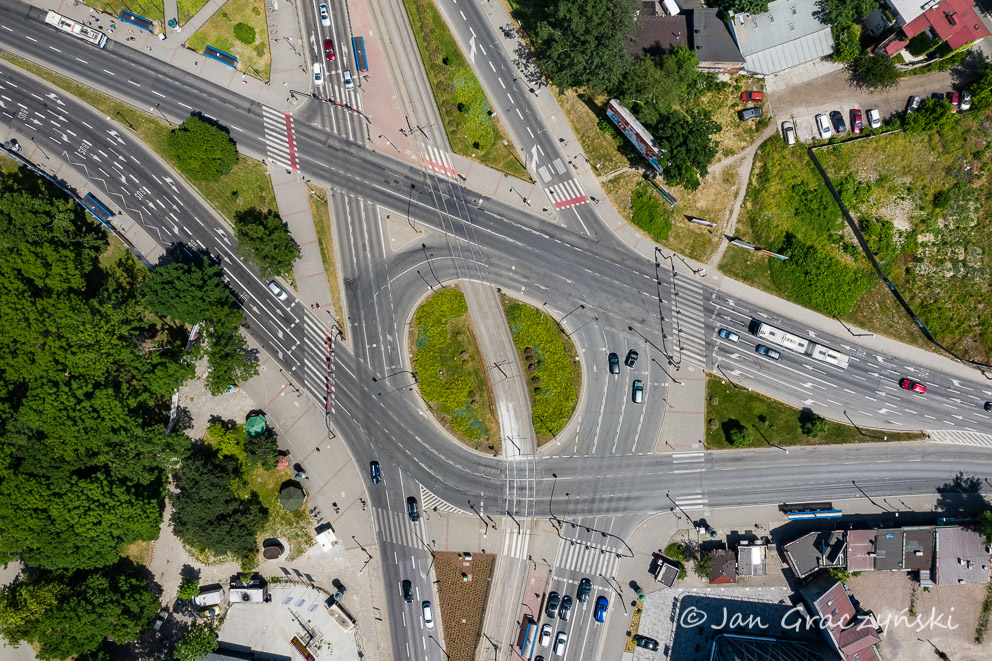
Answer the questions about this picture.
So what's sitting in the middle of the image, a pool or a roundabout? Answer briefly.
roundabout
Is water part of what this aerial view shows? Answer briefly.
No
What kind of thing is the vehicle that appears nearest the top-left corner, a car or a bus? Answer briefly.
bus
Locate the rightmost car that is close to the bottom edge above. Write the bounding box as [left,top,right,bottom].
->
[634,632,662,652]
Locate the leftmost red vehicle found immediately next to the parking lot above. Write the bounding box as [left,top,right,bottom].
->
[741,90,763,103]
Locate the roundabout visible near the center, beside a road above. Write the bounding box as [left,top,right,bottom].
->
[406,279,586,458]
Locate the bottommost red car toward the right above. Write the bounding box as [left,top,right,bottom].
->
[896,377,926,394]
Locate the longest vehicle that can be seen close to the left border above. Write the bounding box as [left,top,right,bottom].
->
[40,3,113,54]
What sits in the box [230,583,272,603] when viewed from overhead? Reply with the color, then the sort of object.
white vehicle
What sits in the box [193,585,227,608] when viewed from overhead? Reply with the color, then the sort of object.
white vehicle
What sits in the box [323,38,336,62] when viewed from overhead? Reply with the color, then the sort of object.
red vehicle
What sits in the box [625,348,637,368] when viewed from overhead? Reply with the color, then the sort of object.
black vehicle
